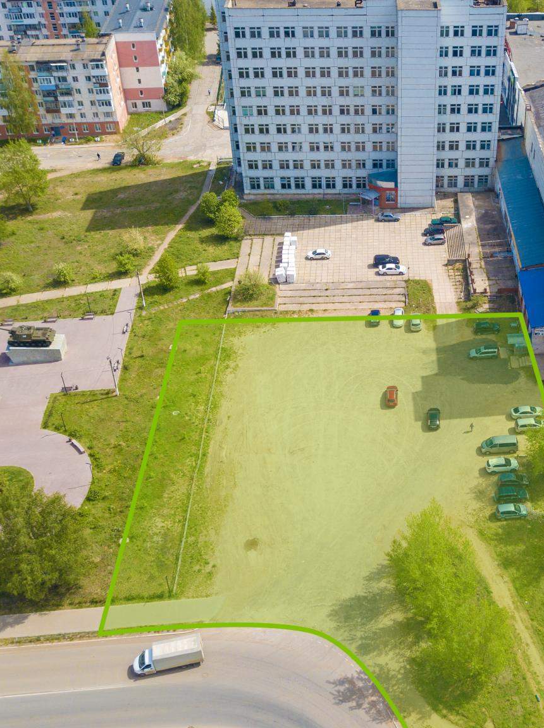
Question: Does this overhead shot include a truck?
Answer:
Yes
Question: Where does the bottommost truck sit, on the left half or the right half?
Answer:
left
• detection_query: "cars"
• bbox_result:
[513,415,544,433]
[378,263,407,276]
[493,471,531,487]
[423,234,447,245]
[425,408,442,432]
[369,311,380,327]
[409,314,422,333]
[391,308,404,328]
[430,215,456,225]
[484,455,520,474]
[384,388,398,408]
[110,153,127,164]
[372,253,401,264]
[479,434,519,454]
[376,211,401,222]
[422,224,446,236]
[493,483,531,502]
[472,319,501,334]
[510,404,544,419]
[494,503,529,521]
[306,248,333,260]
